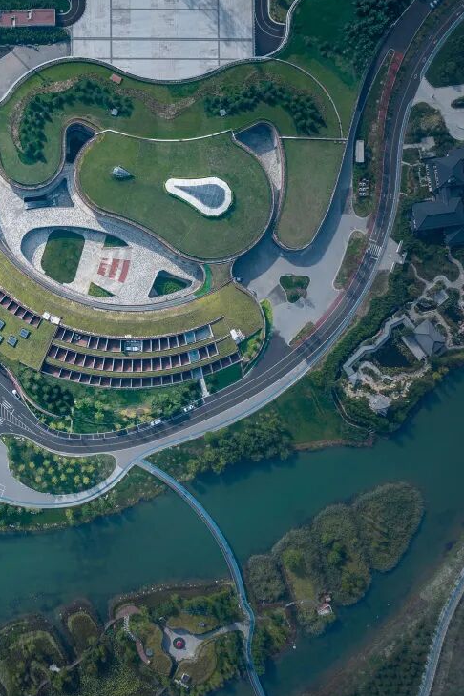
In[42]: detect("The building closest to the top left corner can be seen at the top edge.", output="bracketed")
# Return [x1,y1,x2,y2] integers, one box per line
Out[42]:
[0,8,56,27]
